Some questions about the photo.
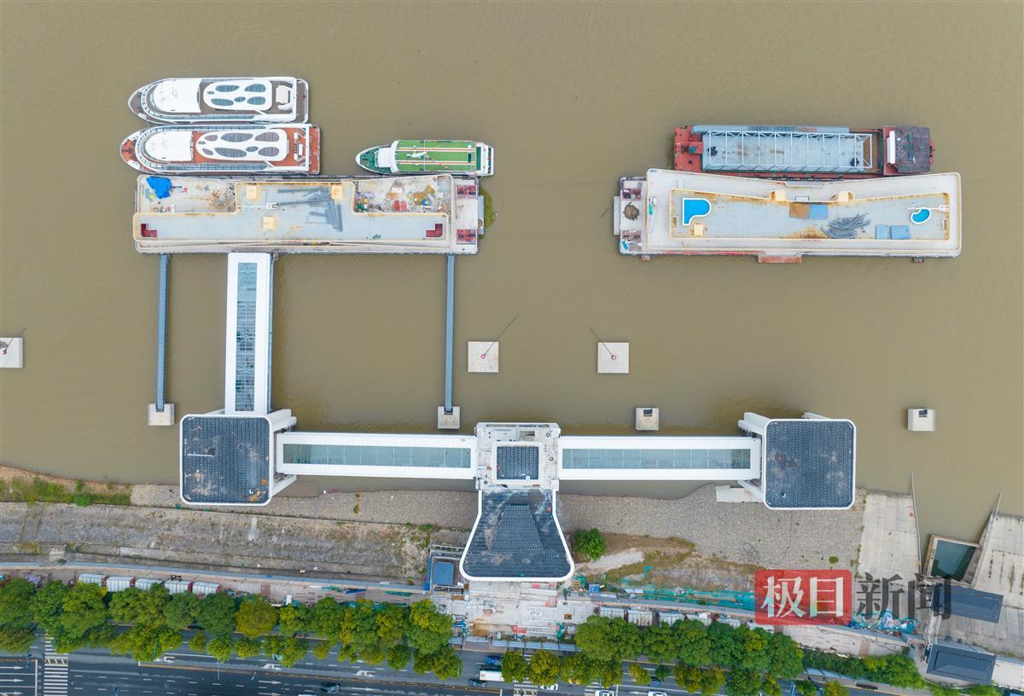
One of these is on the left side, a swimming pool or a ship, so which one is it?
ship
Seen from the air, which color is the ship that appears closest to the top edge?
white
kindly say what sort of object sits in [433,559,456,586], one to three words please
shed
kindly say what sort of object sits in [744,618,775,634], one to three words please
building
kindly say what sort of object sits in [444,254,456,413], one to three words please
pier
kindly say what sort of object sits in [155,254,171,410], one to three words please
pier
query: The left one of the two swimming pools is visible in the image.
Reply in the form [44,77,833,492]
[683,198,711,226]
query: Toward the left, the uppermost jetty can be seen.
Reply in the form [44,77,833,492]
[131,173,484,255]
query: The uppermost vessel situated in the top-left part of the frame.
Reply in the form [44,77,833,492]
[126,76,309,124]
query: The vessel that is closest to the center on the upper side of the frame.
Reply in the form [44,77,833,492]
[355,140,494,177]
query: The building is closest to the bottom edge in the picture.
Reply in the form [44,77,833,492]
[920,639,996,684]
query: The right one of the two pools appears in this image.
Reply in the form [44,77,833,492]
[911,209,932,224]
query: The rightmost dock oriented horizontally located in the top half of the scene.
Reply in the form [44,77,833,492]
[613,168,962,264]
